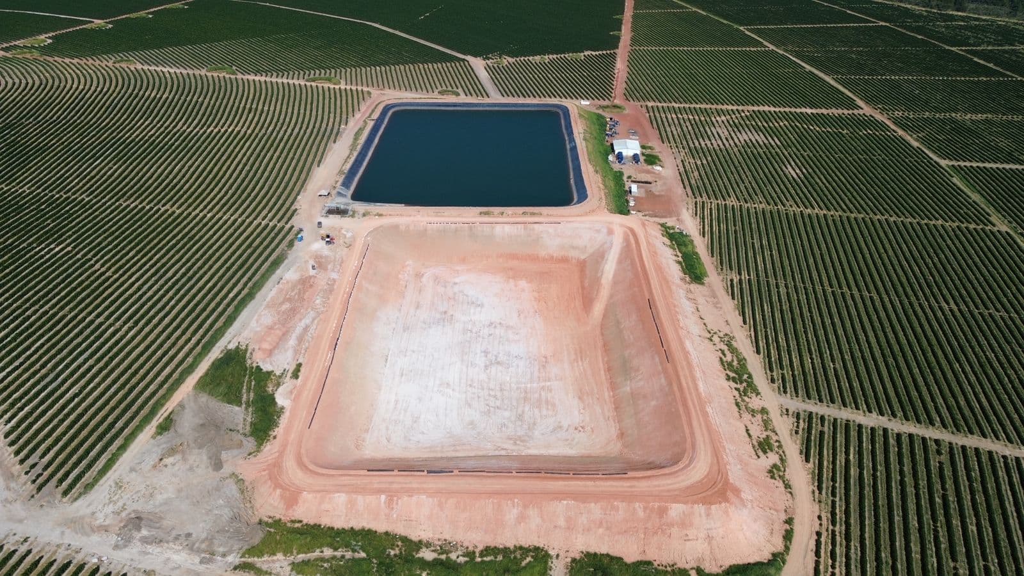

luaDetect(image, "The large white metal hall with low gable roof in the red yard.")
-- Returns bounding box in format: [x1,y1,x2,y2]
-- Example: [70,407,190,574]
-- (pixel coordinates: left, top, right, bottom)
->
[612,139,641,159]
